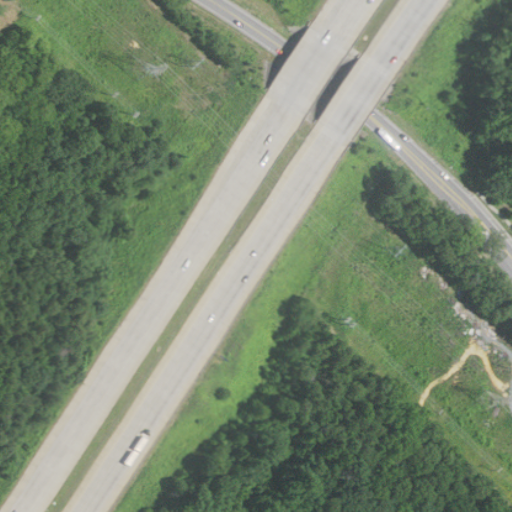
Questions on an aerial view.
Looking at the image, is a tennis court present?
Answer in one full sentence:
No, no tennis court is visible in the scene.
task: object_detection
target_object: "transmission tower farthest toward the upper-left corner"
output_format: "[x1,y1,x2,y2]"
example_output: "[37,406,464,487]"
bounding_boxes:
[144,62,169,80]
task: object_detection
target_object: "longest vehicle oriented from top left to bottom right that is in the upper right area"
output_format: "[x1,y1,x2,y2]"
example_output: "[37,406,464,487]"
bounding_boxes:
[374,126,400,151]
